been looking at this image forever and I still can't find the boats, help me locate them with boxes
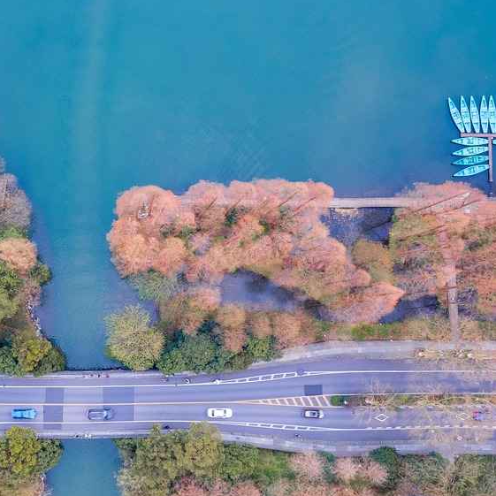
[448,97,466,133]
[453,146,488,155]
[452,155,488,165]
[453,163,488,176]
[482,95,489,133]
[472,95,482,133]
[489,94,496,133]
[451,137,488,145]
[461,95,472,133]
